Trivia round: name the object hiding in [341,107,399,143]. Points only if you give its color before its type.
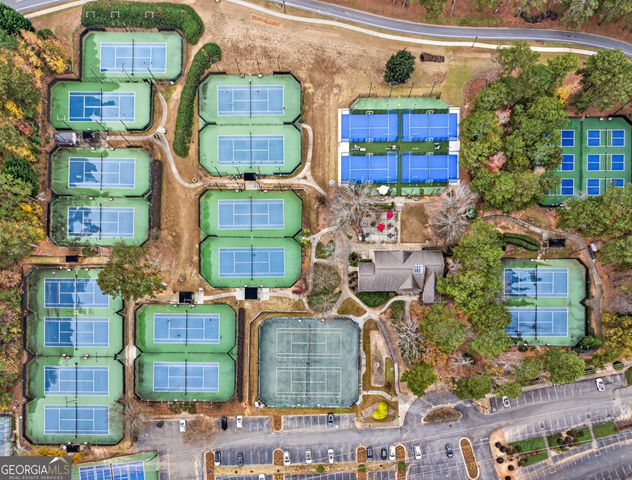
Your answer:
blue sports court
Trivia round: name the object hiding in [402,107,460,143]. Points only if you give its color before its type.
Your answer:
blue sports court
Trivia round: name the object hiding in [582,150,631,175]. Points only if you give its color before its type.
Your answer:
green sports court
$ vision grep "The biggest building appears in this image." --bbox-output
[357,250,445,303]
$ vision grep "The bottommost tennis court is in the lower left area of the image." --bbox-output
[66,452,157,480]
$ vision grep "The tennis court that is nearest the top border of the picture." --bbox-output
[83,30,182,80]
